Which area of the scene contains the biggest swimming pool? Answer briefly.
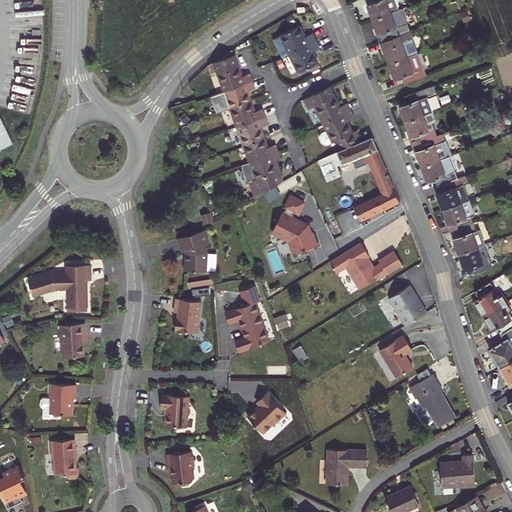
center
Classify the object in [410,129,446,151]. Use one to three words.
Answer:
building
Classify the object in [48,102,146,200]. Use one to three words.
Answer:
roundabout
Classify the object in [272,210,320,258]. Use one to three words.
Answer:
house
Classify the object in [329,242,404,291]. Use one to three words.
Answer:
house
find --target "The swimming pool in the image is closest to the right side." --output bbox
[338,194,353,208]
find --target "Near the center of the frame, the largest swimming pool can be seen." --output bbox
[266,246,286,277]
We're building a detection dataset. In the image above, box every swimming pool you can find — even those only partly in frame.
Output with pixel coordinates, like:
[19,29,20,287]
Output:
[266,246,286,277]
[201,340,212,353]
[338,194,353,208]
